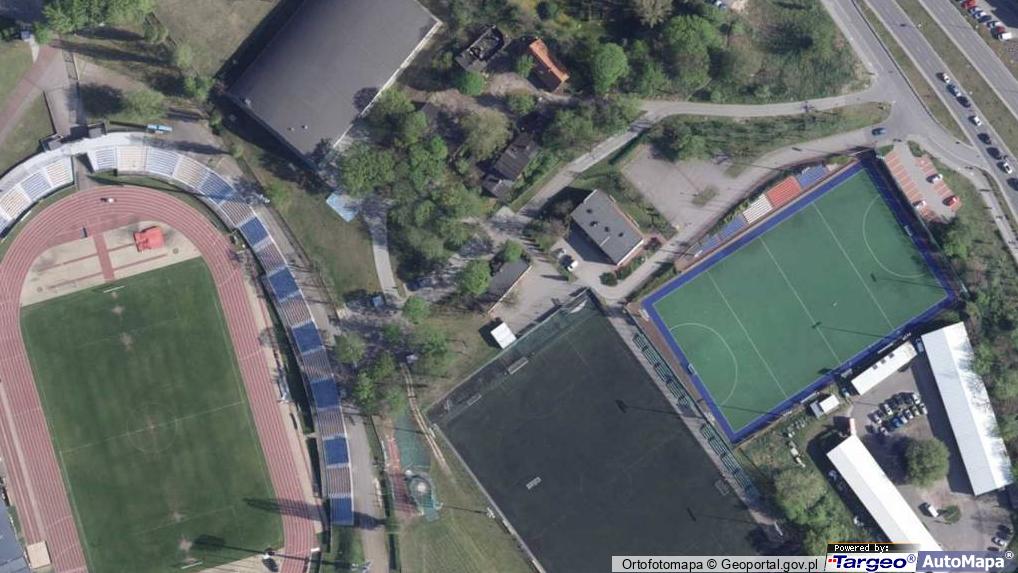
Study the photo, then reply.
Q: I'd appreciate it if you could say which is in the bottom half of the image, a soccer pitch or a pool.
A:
soccer pitch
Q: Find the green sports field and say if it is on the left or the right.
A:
right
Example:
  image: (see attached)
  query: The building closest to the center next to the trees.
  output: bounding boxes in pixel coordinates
[471,261,531,311]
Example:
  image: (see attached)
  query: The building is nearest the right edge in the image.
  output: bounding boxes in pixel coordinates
[921,322,1012,496]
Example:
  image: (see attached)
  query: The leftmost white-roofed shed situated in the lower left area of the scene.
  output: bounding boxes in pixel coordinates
[27,541,51,568]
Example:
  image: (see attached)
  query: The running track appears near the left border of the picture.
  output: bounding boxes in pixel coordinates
[0,185,318,573]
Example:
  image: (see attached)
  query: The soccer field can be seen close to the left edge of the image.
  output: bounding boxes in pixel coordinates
[21,258,282,573]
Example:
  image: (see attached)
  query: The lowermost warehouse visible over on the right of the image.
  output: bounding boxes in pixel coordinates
[827,435,956,573]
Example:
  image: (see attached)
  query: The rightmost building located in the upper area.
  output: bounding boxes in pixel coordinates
[572,189,645,265]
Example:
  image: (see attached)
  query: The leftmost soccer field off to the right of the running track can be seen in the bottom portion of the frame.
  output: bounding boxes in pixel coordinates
[430,291,785,573]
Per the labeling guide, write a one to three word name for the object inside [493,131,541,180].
house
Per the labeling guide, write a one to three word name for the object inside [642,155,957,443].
sports field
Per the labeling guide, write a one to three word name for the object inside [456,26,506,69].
house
